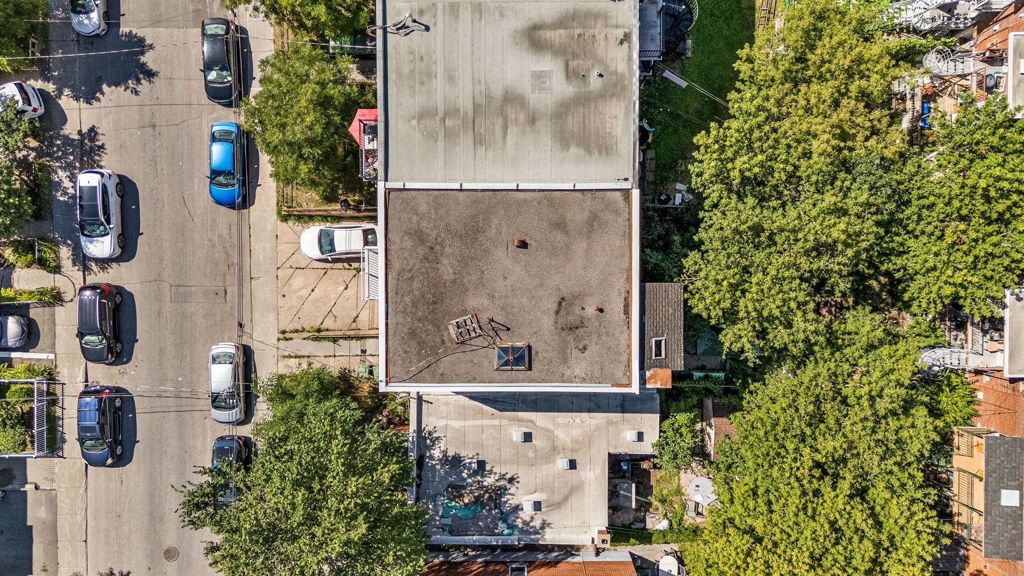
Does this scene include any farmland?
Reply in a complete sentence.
No, no farmland is visible.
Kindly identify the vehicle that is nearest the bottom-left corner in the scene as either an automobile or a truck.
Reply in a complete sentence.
From above, the vehicle that is nearest the bottom-left corner can be identified as an automobile.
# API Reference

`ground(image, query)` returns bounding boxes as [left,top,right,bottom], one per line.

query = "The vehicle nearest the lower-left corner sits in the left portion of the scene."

[72,385,122,467]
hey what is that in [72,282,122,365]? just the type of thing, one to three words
car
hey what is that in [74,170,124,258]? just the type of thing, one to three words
car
